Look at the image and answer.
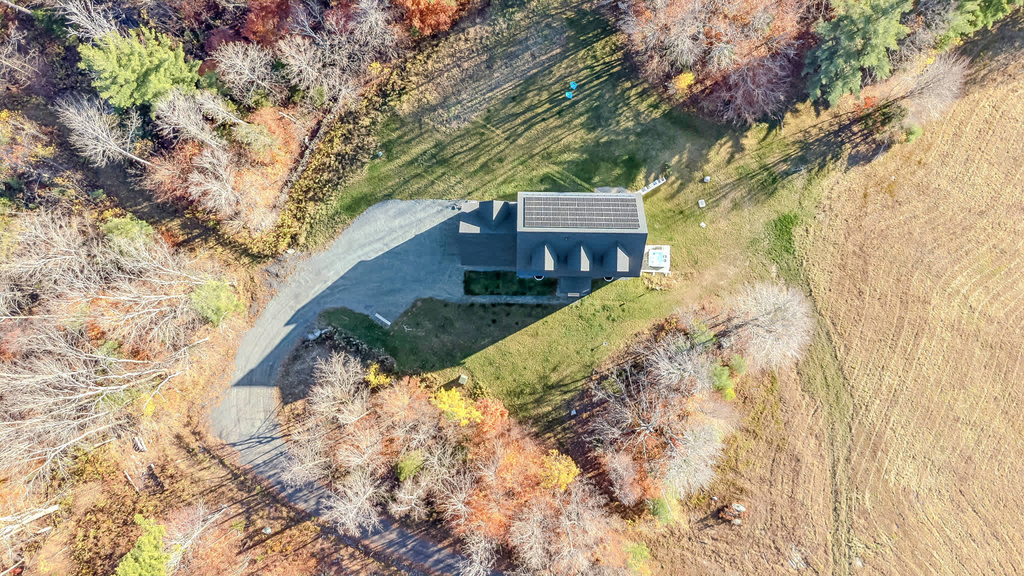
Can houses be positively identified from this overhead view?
Yes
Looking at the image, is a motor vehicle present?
No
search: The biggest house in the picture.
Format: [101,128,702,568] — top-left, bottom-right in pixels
[459,192,648,298]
